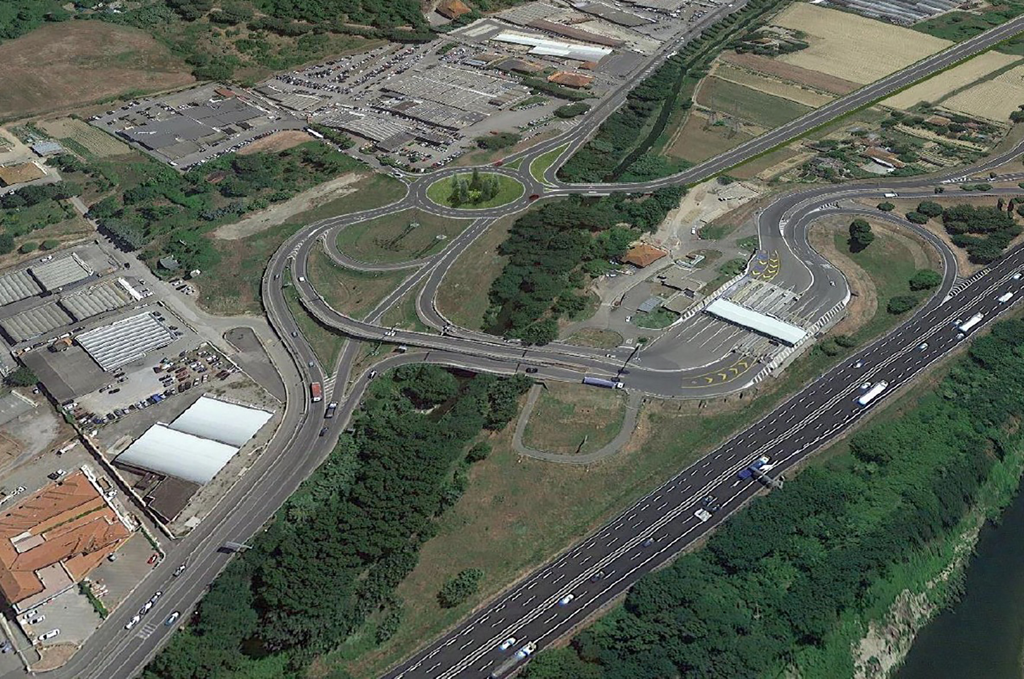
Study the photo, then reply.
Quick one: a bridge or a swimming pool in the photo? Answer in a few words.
bridge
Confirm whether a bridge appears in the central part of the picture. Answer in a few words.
Yes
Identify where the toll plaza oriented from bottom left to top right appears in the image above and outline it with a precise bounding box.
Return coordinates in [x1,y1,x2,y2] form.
[620,239,848,396]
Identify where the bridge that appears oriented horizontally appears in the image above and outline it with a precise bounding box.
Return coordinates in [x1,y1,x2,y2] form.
[289,248,635,380]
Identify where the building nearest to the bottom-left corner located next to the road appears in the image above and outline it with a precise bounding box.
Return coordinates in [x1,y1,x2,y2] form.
[0,468,137,616]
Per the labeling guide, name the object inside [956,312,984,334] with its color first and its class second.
white truck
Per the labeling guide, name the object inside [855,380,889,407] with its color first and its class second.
white truck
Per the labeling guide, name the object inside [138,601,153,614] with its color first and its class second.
gray vehicle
